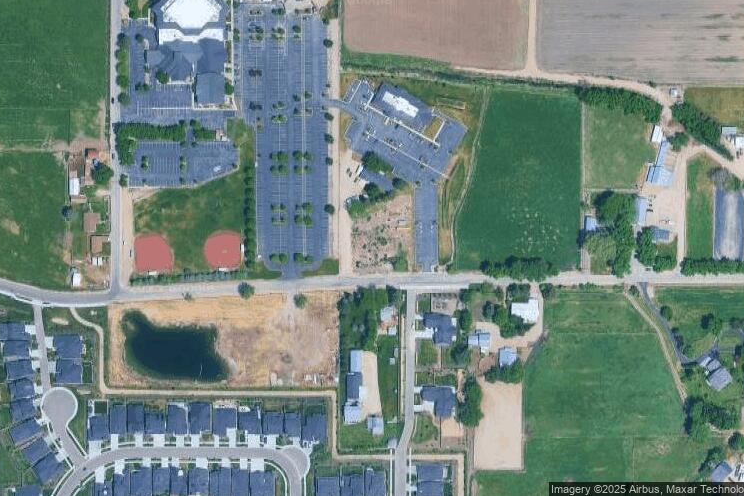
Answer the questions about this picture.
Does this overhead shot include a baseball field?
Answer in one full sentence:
Yes, the image includes a baseball field.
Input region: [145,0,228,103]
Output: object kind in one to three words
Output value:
building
